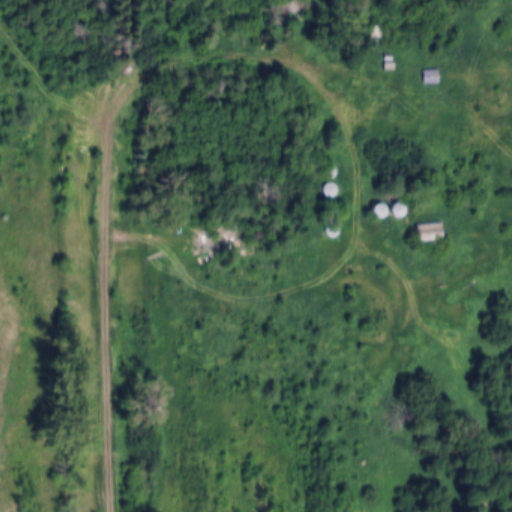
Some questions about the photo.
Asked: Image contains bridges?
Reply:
No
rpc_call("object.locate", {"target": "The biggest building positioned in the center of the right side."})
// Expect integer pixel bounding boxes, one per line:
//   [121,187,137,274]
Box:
[418,222,444,241]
